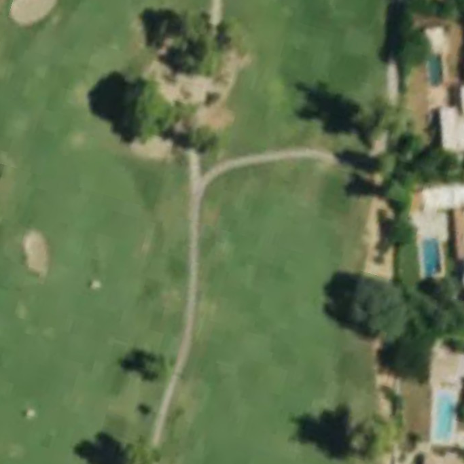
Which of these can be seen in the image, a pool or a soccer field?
pool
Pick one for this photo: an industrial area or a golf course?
golf course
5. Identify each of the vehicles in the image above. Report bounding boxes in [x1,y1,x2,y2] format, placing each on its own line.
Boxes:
[28,408,33,416]
[92,280,98,289]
